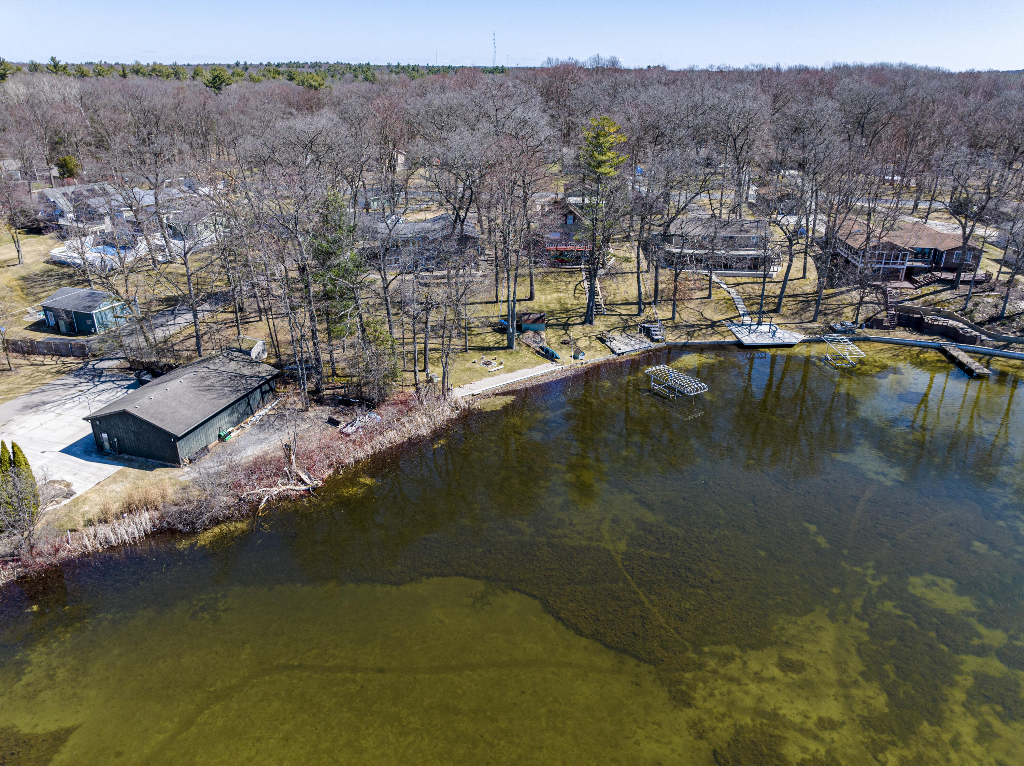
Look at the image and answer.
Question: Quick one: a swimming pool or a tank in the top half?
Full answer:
You can see a swimming pool in the top half.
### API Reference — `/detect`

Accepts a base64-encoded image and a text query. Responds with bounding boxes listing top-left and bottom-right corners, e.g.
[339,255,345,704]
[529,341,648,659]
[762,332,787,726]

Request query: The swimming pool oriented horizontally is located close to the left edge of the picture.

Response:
[34,239,150,269]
